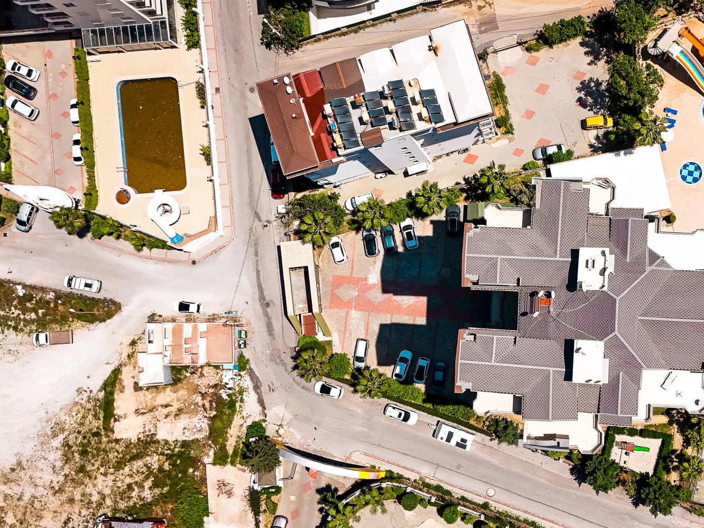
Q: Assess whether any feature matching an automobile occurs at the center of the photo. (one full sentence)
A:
Yes, an automobile is visible at the center of the photo.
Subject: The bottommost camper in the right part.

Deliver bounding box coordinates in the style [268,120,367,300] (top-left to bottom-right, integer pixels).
[429,422,477,451]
